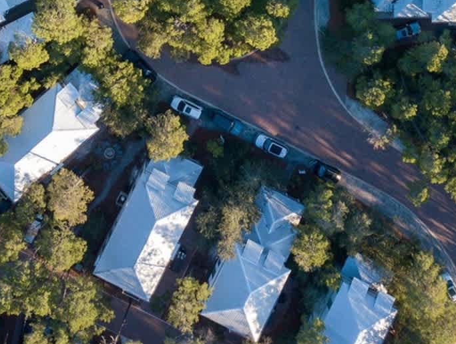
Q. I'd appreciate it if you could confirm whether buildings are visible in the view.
Yes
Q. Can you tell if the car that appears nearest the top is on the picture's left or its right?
right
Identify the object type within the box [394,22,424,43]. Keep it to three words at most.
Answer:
car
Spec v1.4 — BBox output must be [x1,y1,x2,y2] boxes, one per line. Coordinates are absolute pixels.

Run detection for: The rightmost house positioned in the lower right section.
[297,252,398,344]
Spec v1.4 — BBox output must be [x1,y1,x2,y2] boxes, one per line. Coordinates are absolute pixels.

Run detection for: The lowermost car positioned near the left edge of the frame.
[20,215,44,247]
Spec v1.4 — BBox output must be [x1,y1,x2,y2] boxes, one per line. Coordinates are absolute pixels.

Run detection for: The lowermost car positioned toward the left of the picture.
[170,242,191,273]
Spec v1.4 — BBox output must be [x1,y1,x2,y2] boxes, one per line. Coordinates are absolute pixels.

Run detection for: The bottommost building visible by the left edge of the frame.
[0,70,107,204]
